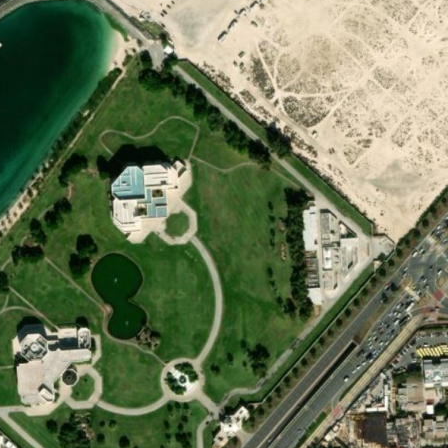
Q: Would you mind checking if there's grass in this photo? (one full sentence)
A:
Yes, grass can be seen from above here.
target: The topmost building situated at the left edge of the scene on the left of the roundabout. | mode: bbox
[13,326,91,404]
